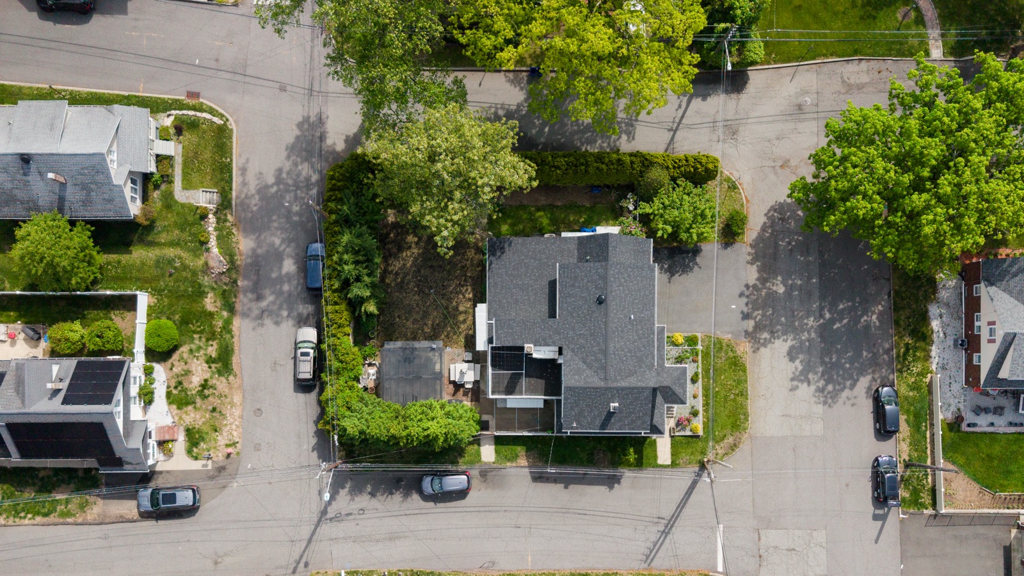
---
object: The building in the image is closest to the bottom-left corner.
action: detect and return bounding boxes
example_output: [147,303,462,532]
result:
[0,358,163,473]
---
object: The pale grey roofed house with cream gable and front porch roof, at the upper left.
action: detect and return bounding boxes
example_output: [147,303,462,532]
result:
[0,100,174,220]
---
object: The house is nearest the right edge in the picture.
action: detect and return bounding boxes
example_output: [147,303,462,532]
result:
[965,259,1024,390]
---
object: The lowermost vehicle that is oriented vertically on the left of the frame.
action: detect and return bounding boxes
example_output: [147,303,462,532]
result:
[293,328,320,385]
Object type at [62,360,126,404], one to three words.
solar panel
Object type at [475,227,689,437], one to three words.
house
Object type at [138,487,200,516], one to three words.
car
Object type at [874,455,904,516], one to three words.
car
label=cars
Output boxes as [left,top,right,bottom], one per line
[301,242,326,293]
[138,487,200,516]
[421,470,473,497]
[874,455,904,516]
[293,328,320,385]
[874,385,903,437]
[33,0,91,13]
